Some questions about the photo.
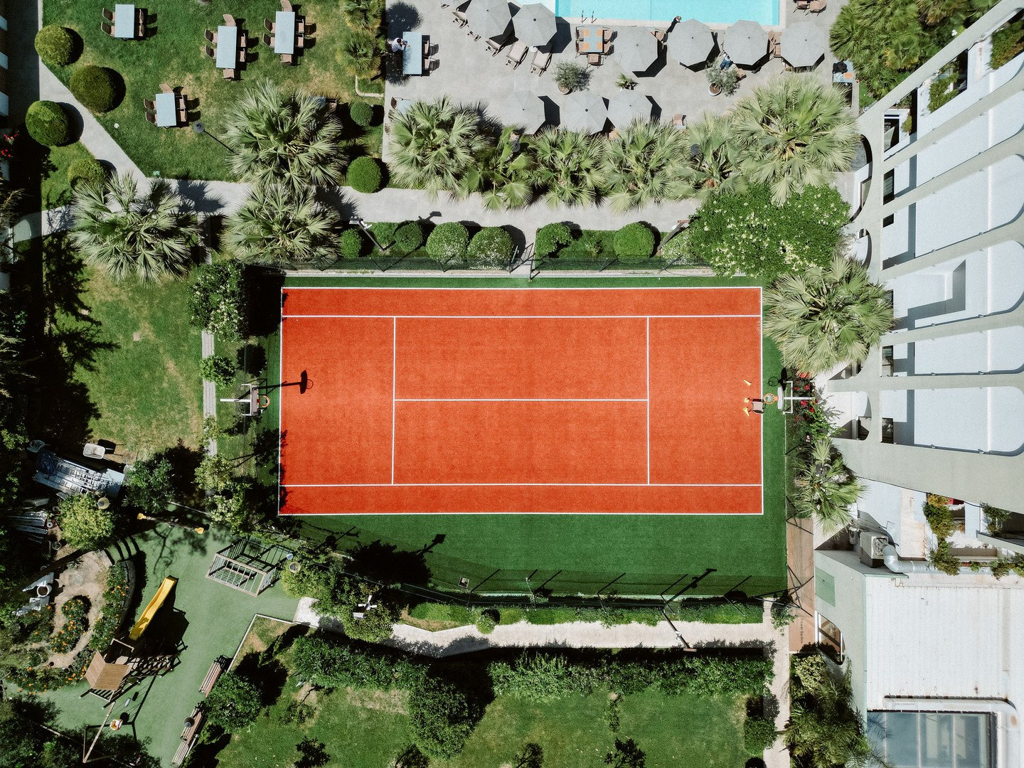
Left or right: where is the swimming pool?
right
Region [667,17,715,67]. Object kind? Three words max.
umbrella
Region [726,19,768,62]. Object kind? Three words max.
umbrella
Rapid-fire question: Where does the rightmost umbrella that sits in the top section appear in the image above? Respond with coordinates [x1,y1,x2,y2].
[780,21,825,68]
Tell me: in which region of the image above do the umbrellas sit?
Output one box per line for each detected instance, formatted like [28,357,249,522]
[780,21,825,68]
[608,87,650,130]
[564,90,608,133]
[502,90,545,133]
[667,17,715,67]
[465,0,511,41]
[614,26,658,73]
[726,19,768,62]
[512,0,557,49]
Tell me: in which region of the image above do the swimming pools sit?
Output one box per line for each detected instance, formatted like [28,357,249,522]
[557,0,779,25]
